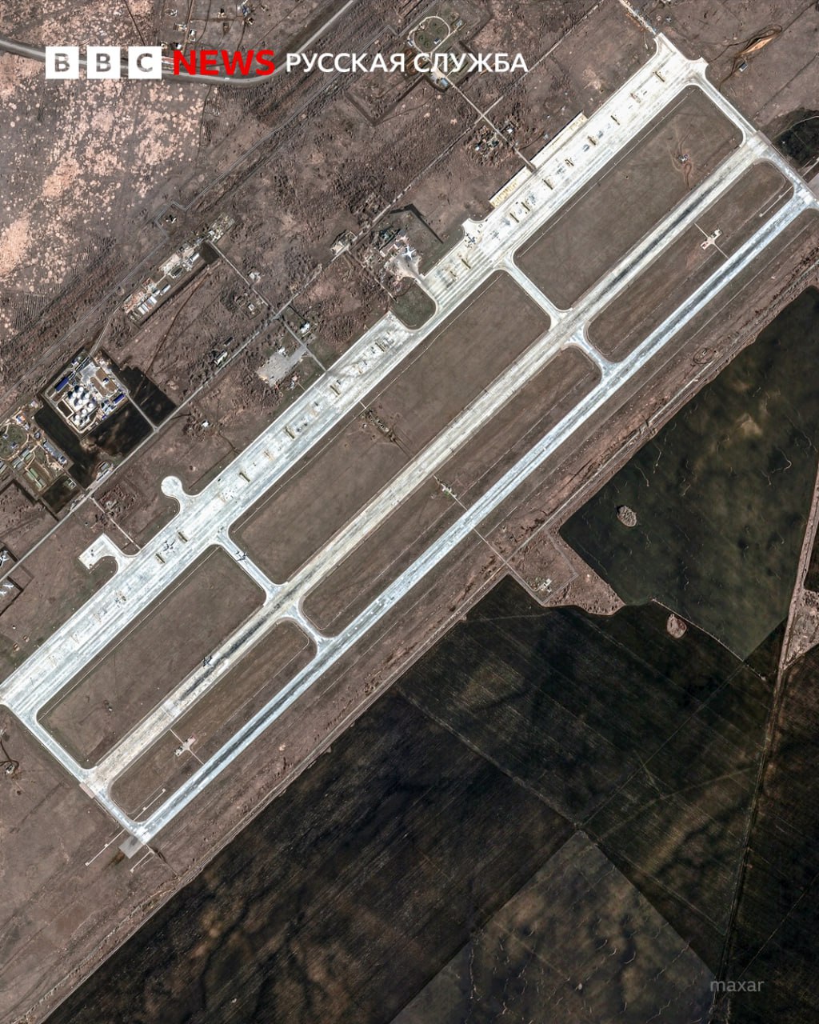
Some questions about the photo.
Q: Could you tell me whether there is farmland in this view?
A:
Yes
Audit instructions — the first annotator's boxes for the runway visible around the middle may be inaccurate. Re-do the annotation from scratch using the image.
[85,132,769,787]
